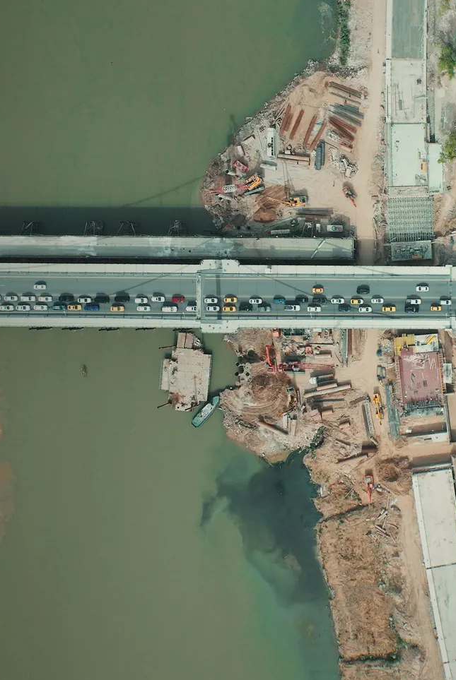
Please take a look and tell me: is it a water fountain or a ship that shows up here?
ship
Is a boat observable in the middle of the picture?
Yes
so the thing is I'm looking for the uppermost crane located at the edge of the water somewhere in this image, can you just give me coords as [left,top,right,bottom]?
[206,173,265,194]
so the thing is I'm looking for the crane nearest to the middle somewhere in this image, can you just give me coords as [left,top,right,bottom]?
[273,360,337,374]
